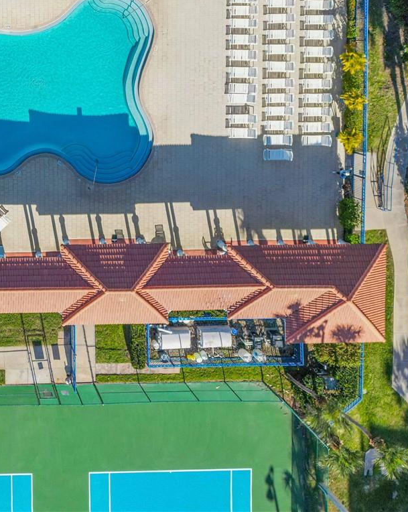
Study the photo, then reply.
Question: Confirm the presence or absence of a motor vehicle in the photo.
No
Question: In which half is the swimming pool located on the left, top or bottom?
top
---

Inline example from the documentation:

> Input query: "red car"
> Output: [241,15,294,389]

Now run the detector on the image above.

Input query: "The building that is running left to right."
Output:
[0,237,388,344]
